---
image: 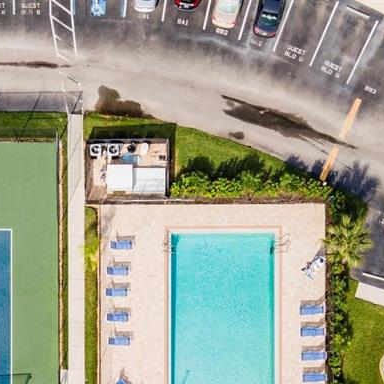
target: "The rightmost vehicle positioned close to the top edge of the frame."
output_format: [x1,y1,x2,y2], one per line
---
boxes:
[258,0,290,35]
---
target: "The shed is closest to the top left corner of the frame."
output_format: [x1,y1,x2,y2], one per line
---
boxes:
[107,165,132,194]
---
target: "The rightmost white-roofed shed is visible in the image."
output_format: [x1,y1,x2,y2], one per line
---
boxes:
[135,168,165,194]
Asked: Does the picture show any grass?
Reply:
Yes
